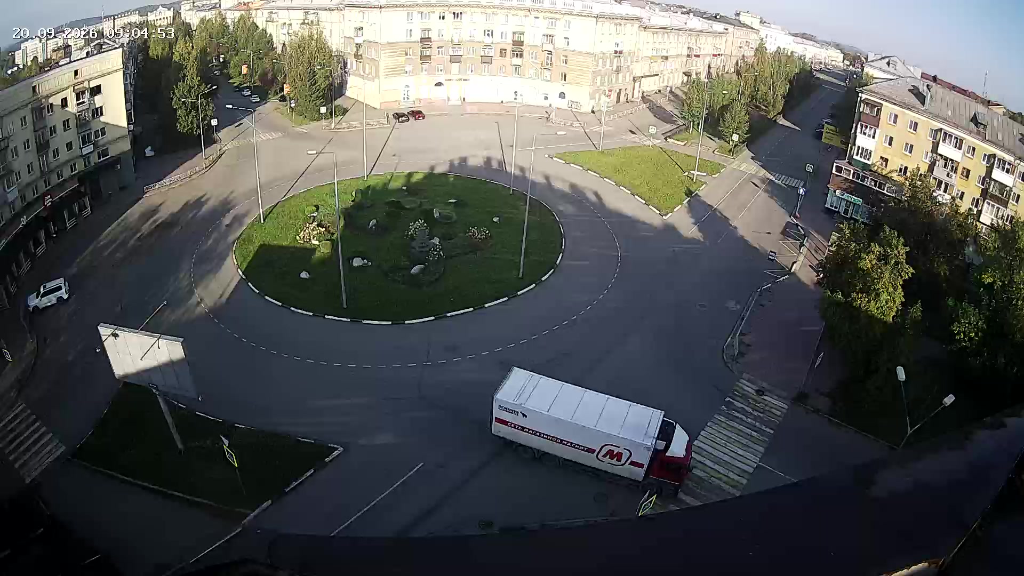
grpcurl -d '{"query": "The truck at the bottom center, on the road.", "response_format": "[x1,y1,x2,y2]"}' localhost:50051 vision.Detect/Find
[491,366,699,499]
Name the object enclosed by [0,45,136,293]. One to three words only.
building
